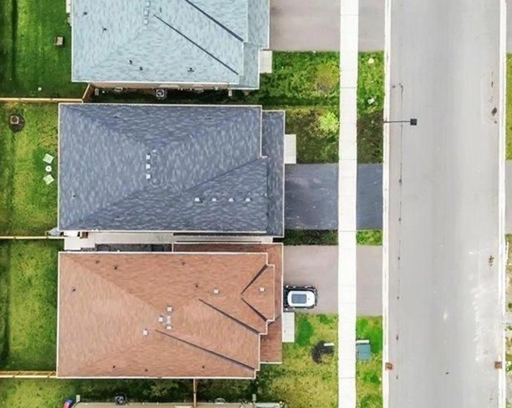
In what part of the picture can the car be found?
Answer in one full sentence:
You can find the car in the bottom area of the picture.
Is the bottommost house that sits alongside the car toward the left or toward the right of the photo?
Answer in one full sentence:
The bottommost house that sits alongside the car sits on the left side.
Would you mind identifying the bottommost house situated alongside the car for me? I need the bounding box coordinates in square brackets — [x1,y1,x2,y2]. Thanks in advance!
[58,244,284,378]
